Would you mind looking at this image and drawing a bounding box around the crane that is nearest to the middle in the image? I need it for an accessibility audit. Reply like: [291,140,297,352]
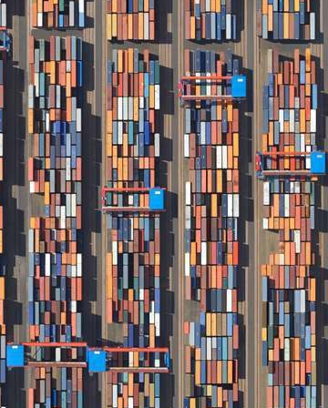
[97,184,170,216]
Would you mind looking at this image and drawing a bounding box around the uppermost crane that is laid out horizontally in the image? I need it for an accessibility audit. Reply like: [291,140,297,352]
[174,74,250,106]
